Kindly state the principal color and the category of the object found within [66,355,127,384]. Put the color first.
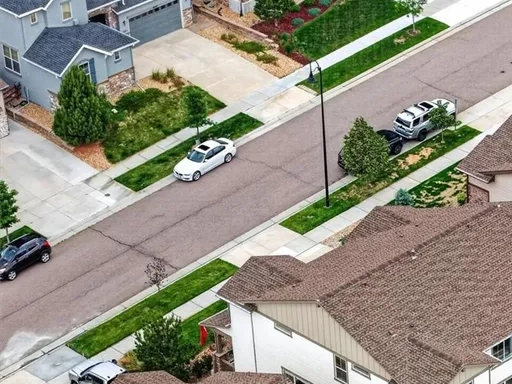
white truck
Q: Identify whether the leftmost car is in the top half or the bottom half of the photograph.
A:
bottom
